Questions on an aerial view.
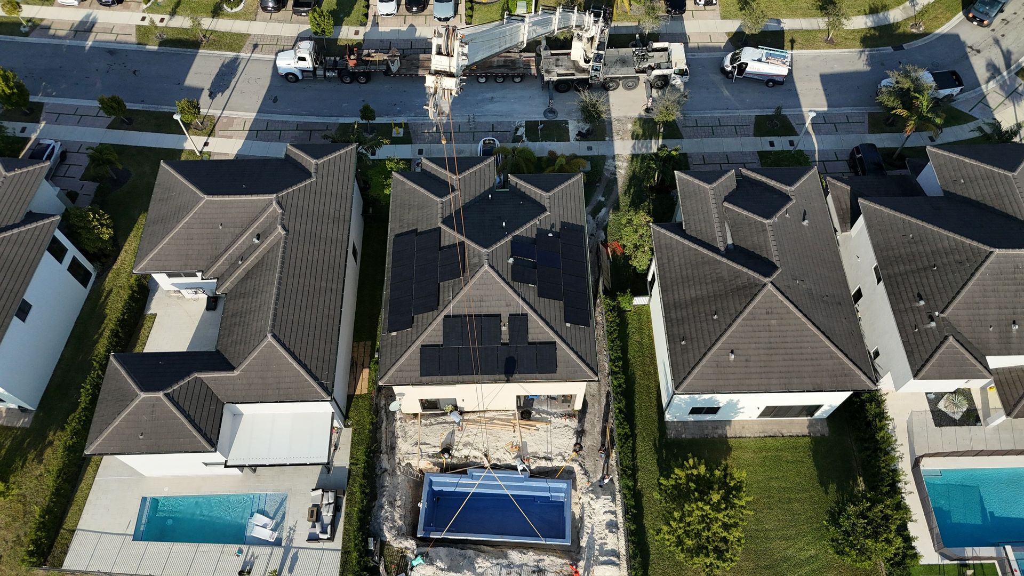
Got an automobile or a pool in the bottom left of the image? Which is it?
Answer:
pool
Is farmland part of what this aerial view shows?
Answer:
No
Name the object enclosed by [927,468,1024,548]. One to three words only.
swimming pool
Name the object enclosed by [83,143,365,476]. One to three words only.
house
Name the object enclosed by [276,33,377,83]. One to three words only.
truck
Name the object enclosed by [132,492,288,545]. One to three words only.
swimming pool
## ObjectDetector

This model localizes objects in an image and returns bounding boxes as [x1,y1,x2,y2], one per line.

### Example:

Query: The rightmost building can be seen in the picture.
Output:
[826,145,1024,430]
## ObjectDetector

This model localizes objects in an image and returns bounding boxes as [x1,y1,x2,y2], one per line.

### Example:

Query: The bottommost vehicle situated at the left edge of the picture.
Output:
[30,134,75,178]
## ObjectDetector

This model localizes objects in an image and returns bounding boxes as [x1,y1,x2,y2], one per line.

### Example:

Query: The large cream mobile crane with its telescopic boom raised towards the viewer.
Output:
[417,1,701,127]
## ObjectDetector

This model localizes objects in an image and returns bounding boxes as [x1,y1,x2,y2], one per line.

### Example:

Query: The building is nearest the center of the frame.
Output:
[377,154,600,413]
